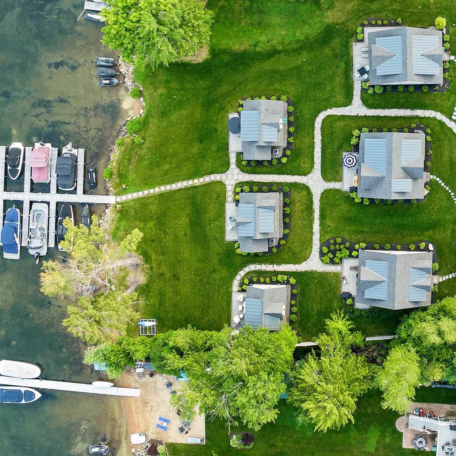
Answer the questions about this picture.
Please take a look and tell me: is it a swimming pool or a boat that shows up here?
boat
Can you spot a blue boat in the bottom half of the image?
Yes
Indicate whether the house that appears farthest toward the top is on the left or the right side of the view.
right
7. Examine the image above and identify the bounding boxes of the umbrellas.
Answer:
[226,117,242,132]
[341,152,359,169]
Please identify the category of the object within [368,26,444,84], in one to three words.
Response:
house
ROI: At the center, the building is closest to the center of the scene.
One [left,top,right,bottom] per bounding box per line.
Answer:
[235,193,282,254]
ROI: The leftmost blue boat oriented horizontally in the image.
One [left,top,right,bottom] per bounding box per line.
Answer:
[0,386,42,403]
